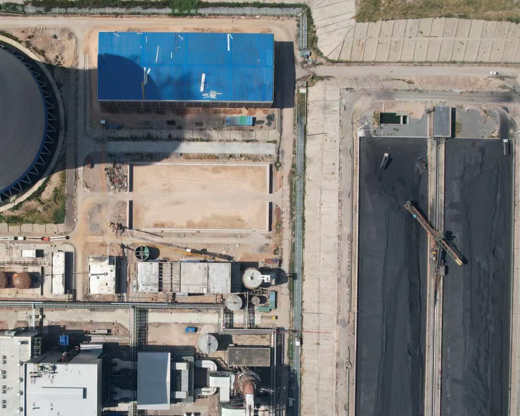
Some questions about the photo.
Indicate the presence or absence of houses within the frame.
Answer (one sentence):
Yes, the picture does show a house.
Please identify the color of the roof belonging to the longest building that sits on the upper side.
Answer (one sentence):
The roof of the longest building that sits on the upper side is blue.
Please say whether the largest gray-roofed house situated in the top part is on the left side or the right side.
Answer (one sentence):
The largest gray-roofed house situated in the top part sits on the right side.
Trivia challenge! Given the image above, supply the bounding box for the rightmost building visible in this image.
[427,107,451,138]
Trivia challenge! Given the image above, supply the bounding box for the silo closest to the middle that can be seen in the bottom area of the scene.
[240,268,278,289]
